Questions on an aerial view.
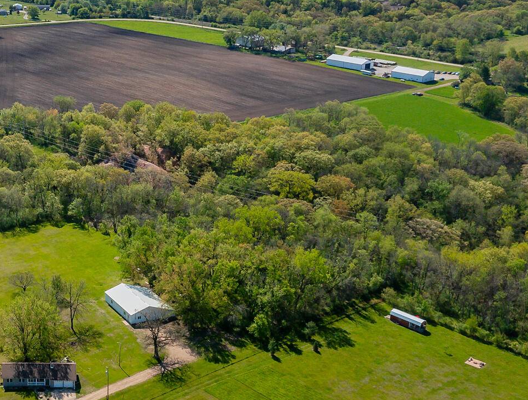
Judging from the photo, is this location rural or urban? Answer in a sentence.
The land in this view is best described as rural.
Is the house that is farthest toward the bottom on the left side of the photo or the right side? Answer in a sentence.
It is on the left.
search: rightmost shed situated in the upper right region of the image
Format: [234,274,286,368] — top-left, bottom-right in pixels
[392,66,431,82]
